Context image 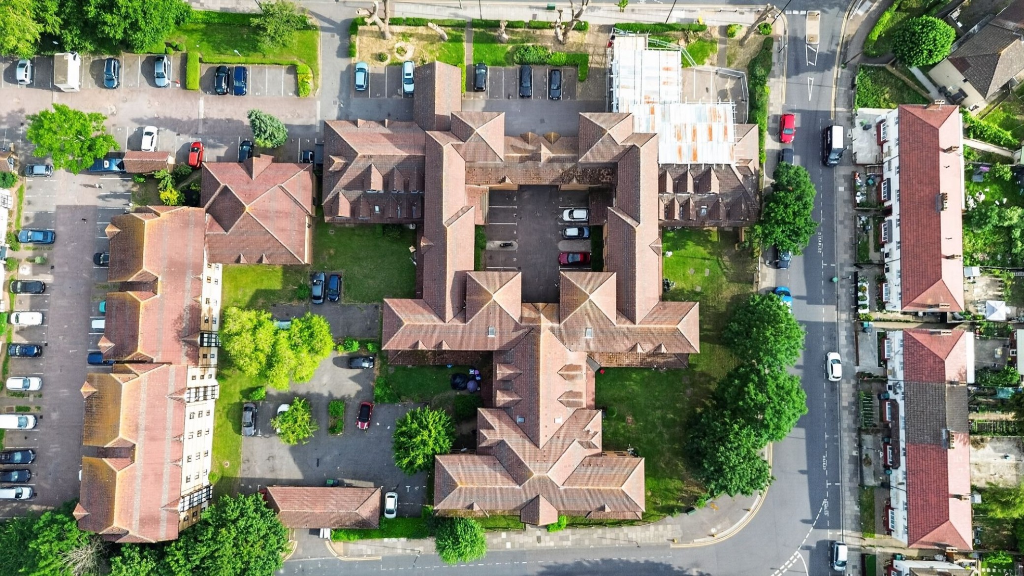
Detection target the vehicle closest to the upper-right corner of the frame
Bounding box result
[821,124,845,165]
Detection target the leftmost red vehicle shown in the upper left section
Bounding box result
[188,141,206,170]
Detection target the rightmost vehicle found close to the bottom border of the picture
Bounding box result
[829,540,846,570]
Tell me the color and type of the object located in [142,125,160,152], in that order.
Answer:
white car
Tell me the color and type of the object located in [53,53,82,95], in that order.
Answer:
white van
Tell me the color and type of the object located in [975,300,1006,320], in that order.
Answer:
white gazebo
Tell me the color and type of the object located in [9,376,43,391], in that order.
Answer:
white car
